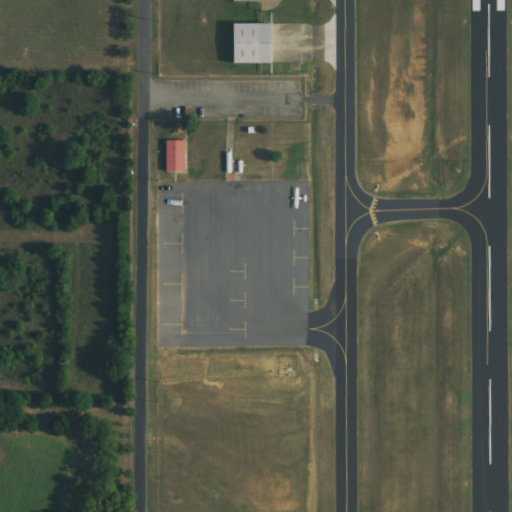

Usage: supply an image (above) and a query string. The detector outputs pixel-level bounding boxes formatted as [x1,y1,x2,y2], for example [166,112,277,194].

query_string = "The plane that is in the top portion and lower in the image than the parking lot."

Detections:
[292,187,308,209]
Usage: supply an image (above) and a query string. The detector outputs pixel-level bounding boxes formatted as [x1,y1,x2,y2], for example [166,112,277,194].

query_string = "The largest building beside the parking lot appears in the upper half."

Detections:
[234,12,272,74]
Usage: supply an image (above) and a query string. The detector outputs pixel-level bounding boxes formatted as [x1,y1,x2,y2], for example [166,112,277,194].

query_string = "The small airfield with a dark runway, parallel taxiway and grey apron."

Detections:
[158,0,508,512]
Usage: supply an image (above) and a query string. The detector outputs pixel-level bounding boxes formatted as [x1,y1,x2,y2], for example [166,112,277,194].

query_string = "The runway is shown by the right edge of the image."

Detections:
[452,0,508,512]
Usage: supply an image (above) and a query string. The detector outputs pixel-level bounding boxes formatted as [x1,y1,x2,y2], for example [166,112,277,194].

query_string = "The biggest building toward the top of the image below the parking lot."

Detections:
[166,140,185,172]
